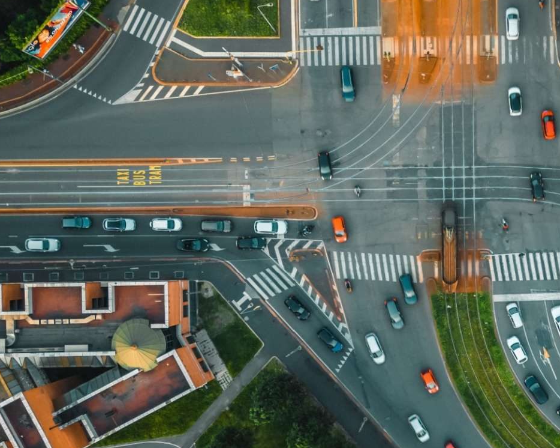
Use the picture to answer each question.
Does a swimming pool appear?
No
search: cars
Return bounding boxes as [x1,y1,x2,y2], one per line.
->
[530,170,544,200]
[407,412,430,445]
[25,236,62,252]
[58,214,92,231]
[318,151,334,181]
[282,294,313,322]
[506,301,523,329]
[551,304,560,341]
[340,65,355,104]
[148,216,183,233]
[400,272,416,306]
[540,109,556,141]
[315,324,345,353]
[507,86,523,116]
[524,371,548,405]
[419,367,439,396]
[364,331,386,366]
[177,236,211,252]
[101,217,137,233]
[235,235,268,252]
[506,334,526,366]
[386,297,404,331]
[333,215,349,243]
[504,6,521,41]
[200,218,232,234]
[443,438,459,448]
[253,218,288,235]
